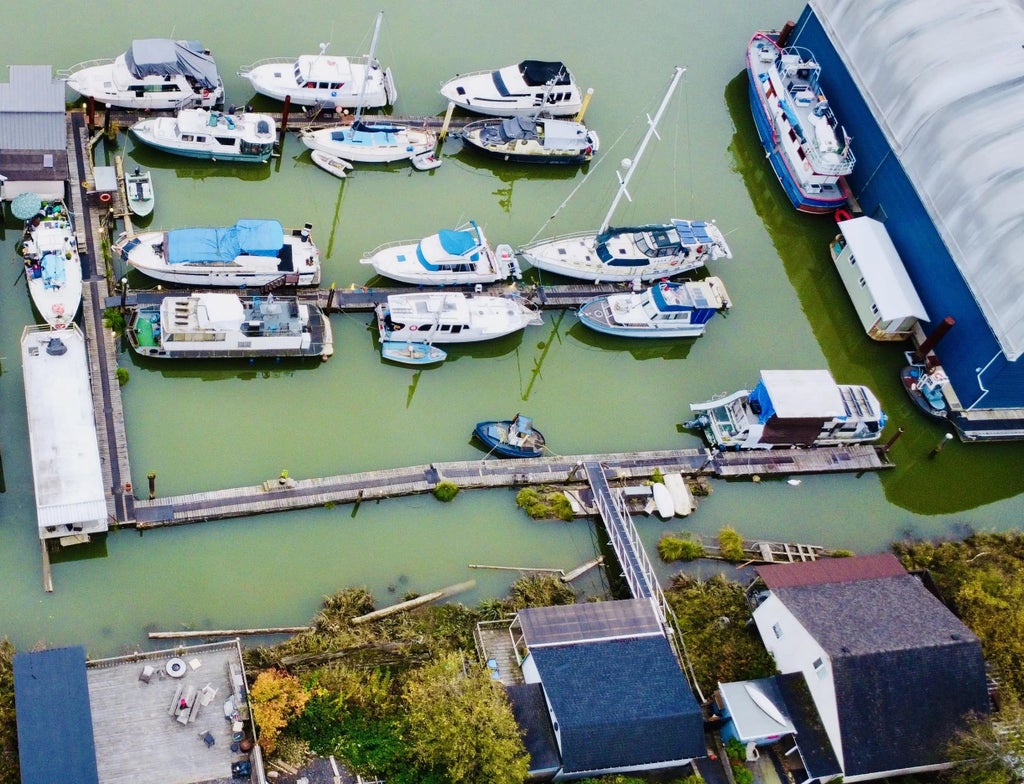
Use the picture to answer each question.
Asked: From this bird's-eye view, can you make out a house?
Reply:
Yes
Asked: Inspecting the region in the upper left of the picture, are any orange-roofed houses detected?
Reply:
No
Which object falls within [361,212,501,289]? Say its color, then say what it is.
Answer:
white boat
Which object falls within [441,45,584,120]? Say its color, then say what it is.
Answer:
white boat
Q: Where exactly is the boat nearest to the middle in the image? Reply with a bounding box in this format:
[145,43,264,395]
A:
[474,415,545,455]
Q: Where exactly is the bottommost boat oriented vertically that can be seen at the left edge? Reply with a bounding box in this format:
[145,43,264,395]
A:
[22,319,108,570]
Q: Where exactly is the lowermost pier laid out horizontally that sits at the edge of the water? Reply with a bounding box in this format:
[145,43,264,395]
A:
[701,543,824,565]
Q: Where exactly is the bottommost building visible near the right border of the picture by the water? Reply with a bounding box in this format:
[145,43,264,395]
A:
[742,551,988,784]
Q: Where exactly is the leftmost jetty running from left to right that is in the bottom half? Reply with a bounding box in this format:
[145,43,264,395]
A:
[136,462,439,529]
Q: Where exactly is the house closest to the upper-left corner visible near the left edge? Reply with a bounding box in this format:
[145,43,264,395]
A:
[0,64,72,216]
